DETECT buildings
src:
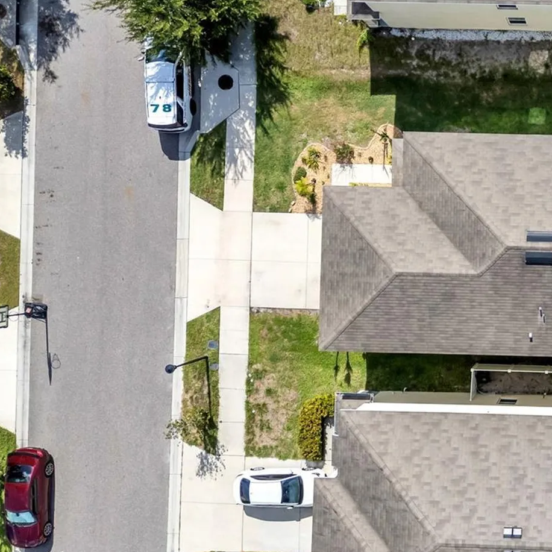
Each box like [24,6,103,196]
[318,130,552,356]
[347,0,552,40]
[311,381,552,552]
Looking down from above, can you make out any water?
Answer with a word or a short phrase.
No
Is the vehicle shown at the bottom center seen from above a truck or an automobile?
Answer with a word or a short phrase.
automobile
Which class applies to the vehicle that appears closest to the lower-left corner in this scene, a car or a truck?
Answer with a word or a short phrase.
car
